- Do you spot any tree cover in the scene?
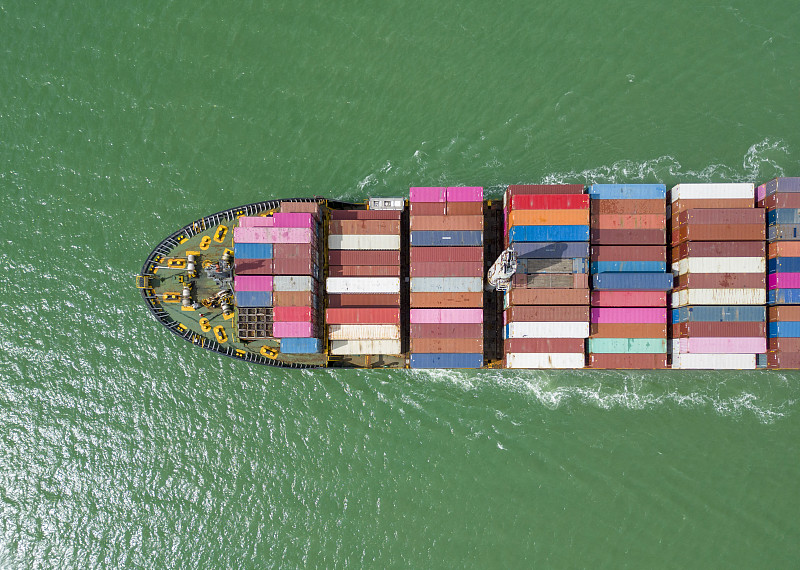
No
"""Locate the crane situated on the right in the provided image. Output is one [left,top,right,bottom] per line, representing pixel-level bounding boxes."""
[483,248,519,298]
